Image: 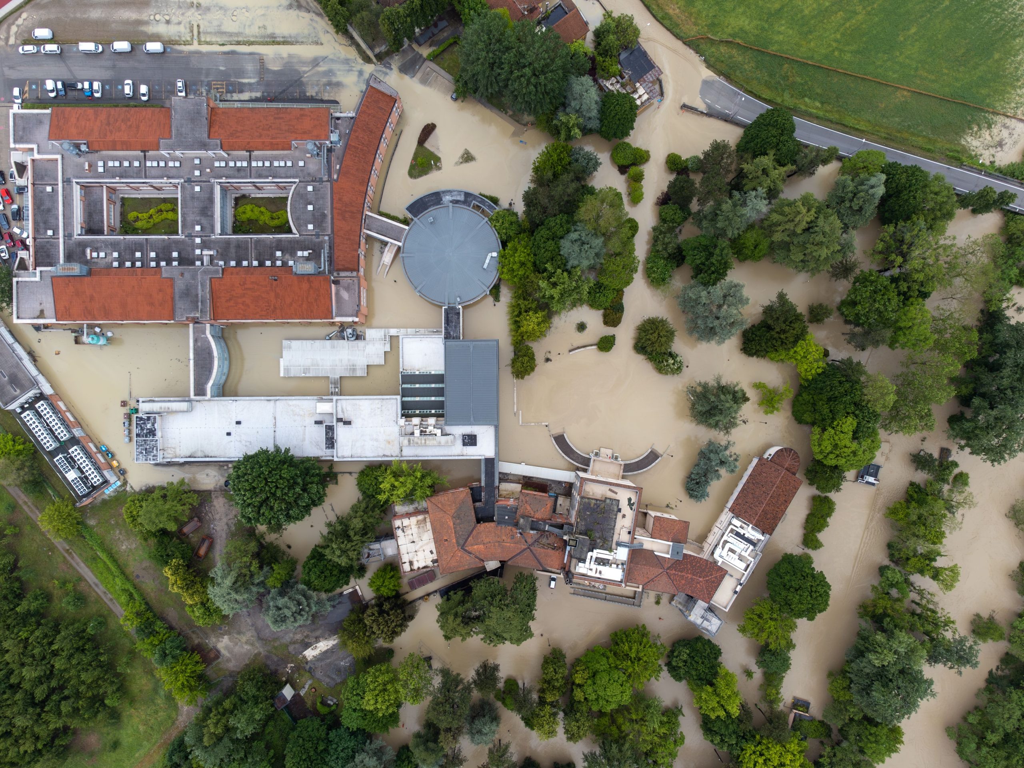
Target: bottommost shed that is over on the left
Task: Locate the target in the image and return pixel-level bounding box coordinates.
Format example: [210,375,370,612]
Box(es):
[276,678,299,709]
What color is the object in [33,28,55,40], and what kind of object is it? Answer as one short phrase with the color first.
white vehicle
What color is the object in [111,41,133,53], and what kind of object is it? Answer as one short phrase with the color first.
white vehicle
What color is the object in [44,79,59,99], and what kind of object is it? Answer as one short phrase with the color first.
white car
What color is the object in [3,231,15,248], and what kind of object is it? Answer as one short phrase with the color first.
red vehicle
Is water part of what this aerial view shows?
Yes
